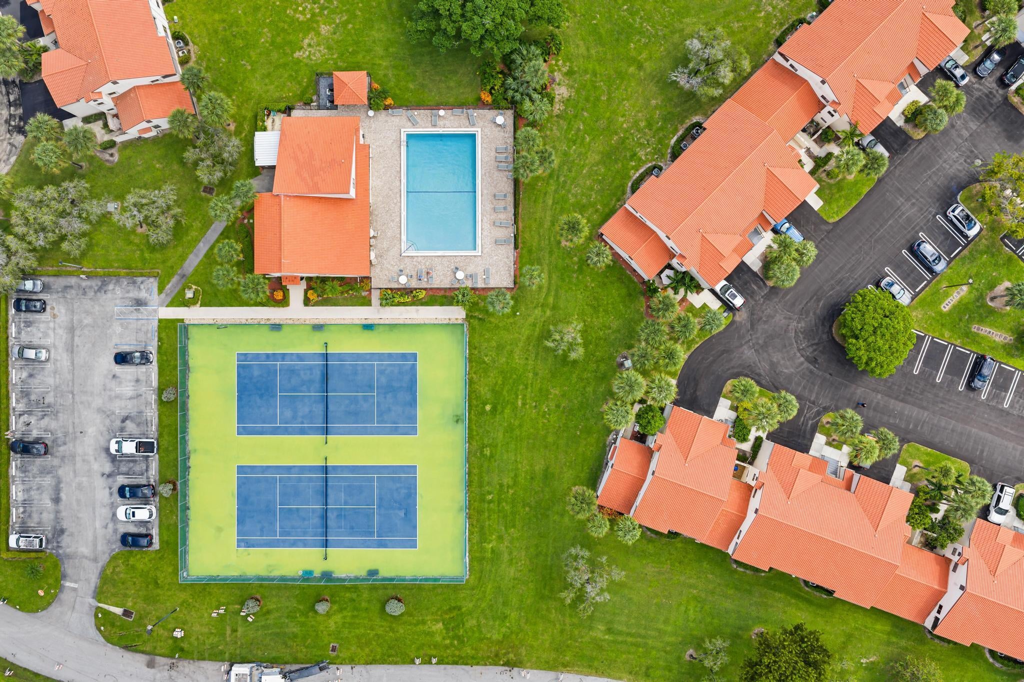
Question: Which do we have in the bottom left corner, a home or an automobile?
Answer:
automobile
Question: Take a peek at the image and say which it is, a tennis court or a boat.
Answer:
tennis court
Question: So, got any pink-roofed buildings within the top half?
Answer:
No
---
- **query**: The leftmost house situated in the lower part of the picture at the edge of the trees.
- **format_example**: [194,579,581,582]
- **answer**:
[597,406,740,542]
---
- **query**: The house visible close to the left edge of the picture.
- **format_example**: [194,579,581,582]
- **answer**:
[23,0,201,138]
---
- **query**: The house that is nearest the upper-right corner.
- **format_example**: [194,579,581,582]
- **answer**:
[729,0,968,146]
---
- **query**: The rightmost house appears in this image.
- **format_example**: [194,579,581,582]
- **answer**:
[869,518,1024,661]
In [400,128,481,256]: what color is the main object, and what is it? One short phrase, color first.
blue swimming pool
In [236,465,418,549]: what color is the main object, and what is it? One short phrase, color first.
blue tennis court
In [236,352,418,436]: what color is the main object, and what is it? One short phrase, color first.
blue tennis court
